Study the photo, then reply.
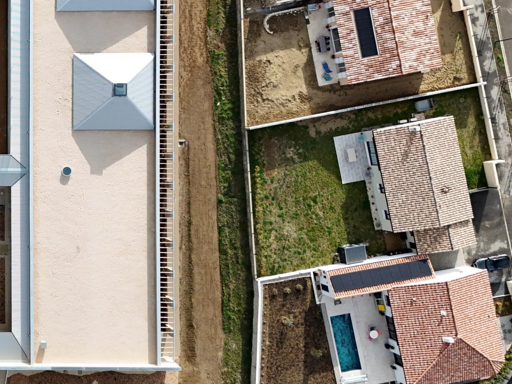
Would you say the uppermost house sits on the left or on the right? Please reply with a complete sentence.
You can find the uppermost house on the right side of the picture.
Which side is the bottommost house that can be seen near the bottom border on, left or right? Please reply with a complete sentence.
You can find the bottommost house that can be seen near the bottom border on the right side of the picture.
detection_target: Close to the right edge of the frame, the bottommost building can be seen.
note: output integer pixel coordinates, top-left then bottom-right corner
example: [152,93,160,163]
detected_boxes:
[319,254,506,384]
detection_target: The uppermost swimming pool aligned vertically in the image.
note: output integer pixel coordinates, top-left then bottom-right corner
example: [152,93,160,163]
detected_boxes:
[326,310,366,377]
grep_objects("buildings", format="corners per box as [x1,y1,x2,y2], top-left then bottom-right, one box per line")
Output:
[0,0,181,370]
[364,116,477,254]
[319,254,506,384]
[324,0,442,85]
